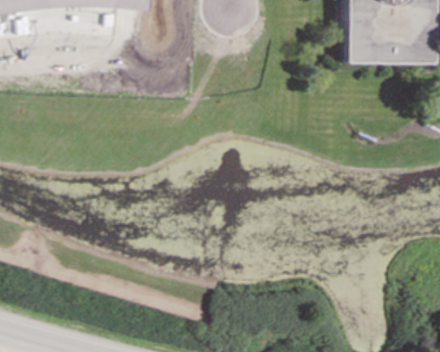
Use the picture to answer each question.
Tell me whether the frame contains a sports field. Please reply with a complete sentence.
No, I can see no sports field in this picture.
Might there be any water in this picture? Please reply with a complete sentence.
Yes, there's water in this view.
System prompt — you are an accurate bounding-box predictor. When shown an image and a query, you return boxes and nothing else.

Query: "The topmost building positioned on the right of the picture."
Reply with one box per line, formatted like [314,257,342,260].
[338,0,438,67]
